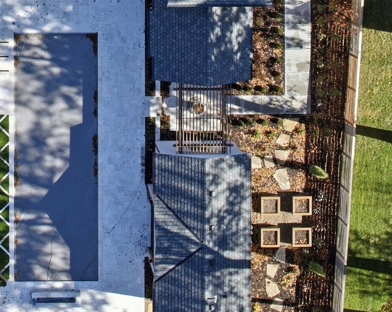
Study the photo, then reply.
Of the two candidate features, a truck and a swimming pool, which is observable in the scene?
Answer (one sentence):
Looking from above, you can make out a swimming pool.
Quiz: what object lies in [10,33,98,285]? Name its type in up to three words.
swimming pool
